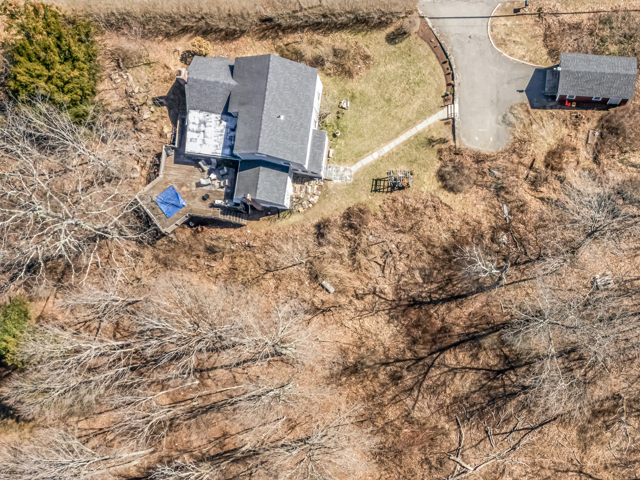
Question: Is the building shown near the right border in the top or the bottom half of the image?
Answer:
top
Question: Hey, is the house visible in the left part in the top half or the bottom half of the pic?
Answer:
top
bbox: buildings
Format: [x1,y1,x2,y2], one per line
[541,53,640,109]
[175,51,329,213]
